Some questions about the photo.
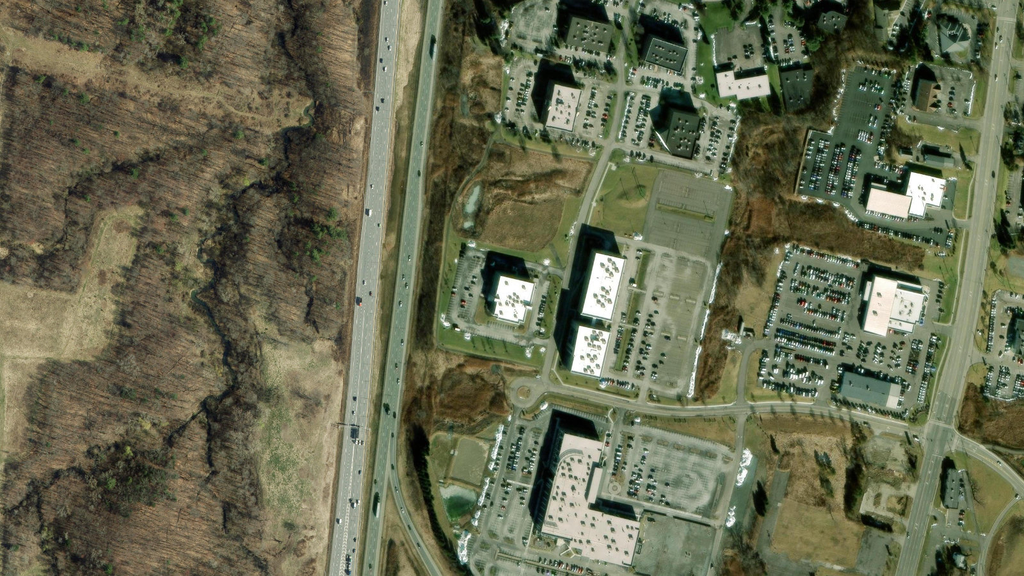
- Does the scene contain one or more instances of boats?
No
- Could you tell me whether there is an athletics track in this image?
No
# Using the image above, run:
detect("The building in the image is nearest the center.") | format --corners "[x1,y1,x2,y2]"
[489,272,535,324]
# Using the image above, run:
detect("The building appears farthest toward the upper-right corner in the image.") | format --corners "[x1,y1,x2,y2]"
[940,14,970,52]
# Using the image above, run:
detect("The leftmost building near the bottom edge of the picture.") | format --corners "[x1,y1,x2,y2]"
[537,429,640,566]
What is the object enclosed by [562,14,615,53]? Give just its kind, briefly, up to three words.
building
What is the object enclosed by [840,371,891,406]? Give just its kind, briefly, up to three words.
building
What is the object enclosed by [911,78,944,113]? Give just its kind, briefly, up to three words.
house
